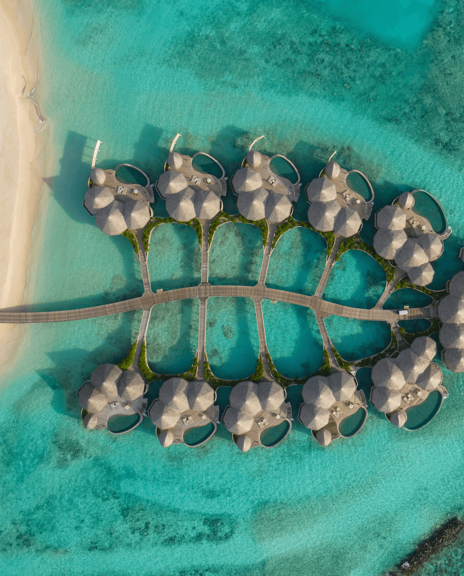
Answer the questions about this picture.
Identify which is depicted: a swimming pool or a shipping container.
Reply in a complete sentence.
This aerial view contains a swimming pool.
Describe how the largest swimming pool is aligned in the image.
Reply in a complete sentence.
In this picture, the largest swimming pool is oriented on a diagonal.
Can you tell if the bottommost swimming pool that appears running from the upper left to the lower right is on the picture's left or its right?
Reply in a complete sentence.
You can find the bottommost swimming pool that appears running from the upper left to the lower right on the right side of the picture.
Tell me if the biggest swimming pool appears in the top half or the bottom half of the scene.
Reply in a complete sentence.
The biggest swimming pool sits in the bottom half of the picture.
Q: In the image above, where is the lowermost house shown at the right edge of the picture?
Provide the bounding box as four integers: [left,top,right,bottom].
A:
[369,335,448,433]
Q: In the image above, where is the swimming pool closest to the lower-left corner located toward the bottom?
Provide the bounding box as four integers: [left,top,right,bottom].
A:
[109,413,142,434]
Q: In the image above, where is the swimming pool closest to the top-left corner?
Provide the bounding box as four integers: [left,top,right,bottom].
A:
[115,166,149,188]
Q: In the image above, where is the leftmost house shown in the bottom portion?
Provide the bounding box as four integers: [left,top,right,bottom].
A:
[76,361,150,436]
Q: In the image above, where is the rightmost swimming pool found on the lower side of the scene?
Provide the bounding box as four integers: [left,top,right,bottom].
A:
[404,390,441,431]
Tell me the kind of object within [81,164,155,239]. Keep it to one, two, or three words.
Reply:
house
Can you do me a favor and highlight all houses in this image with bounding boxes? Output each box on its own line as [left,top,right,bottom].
[304,161,374,240]
[230,150,303,229]
[148,378,220,449]
[76,361,150,436]
[373,190,452,287]
[369,335,448,433]
[296,372,369,448]
[220,372,294,454]
[81,164,155,239]
[430,246,464,375]
[155,152,228,222]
